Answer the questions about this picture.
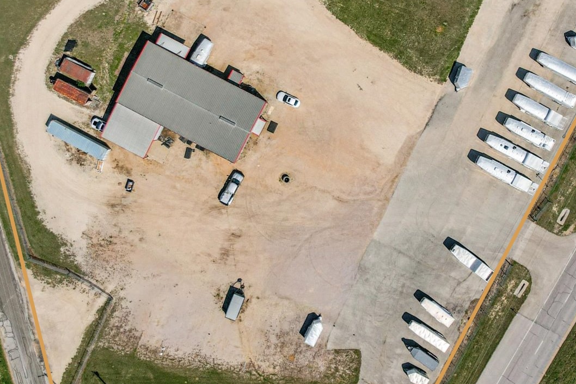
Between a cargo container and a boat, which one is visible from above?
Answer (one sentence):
Visible in the photo is a cargo container.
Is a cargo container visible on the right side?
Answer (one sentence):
No, there is no cargo container on the right side.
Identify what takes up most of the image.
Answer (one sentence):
The bulk of the photo consists of paved ground.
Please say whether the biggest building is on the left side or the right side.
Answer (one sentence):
The biggest building sits on the left side.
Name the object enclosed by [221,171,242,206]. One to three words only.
vehicle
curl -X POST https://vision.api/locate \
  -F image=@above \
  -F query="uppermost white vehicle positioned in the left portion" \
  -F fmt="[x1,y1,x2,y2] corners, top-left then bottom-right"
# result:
[193,36,215,67]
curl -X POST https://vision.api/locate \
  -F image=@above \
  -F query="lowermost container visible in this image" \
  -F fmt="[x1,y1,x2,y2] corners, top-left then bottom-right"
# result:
[53,79,94,108]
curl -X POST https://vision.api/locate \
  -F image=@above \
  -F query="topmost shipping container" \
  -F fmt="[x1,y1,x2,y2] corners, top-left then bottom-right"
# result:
[59,59,98,85]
